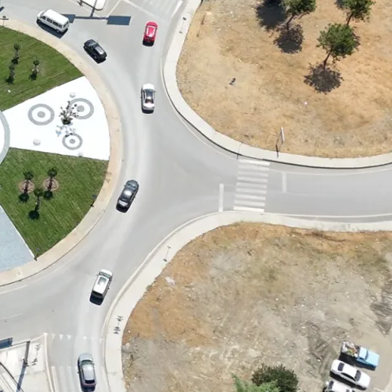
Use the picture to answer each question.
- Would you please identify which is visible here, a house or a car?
car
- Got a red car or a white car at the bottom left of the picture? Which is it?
white car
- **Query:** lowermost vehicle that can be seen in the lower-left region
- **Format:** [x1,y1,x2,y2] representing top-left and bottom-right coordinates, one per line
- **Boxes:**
[78,354,97,392]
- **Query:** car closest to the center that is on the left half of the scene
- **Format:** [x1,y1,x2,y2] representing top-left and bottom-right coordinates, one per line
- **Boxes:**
[116,181,138,212]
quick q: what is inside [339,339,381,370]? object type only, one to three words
vehicle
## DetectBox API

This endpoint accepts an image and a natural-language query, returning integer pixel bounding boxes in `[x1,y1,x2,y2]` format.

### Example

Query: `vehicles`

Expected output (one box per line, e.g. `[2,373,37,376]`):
[78,354,97,392]
[321,376,358,392]
[339,339,381,370]
[329,359,372,390]
[140,85,157,112]
[142,23,158,46]
[89,269,112,304]
[116,181,138,212]
[82,40,108,61]
[35,9,73,36]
